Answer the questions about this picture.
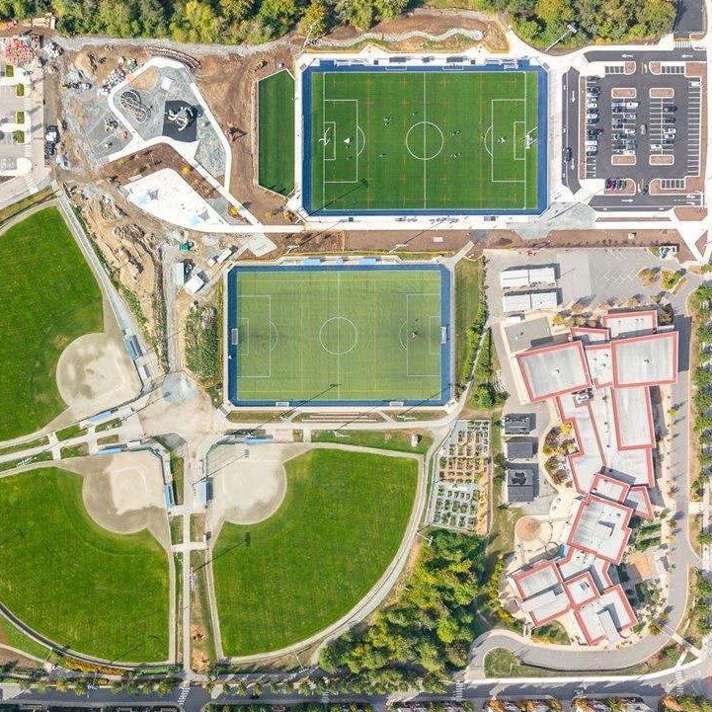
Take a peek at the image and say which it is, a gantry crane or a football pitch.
football pitch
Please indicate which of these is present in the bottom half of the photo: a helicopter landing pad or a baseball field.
baseball field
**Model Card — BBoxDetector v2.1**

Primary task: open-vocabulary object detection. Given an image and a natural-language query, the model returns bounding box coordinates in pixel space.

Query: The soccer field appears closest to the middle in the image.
[228,265,450,406]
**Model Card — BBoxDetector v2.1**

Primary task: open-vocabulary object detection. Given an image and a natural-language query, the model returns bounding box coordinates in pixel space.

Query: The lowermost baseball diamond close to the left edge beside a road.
[0,443,174,670]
